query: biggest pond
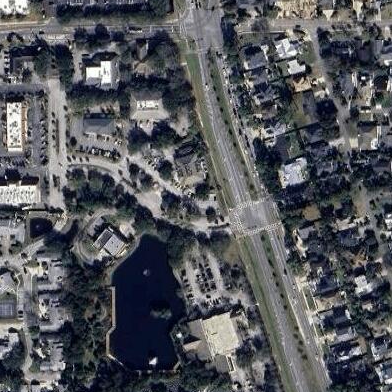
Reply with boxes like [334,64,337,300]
[109,235,186,370]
